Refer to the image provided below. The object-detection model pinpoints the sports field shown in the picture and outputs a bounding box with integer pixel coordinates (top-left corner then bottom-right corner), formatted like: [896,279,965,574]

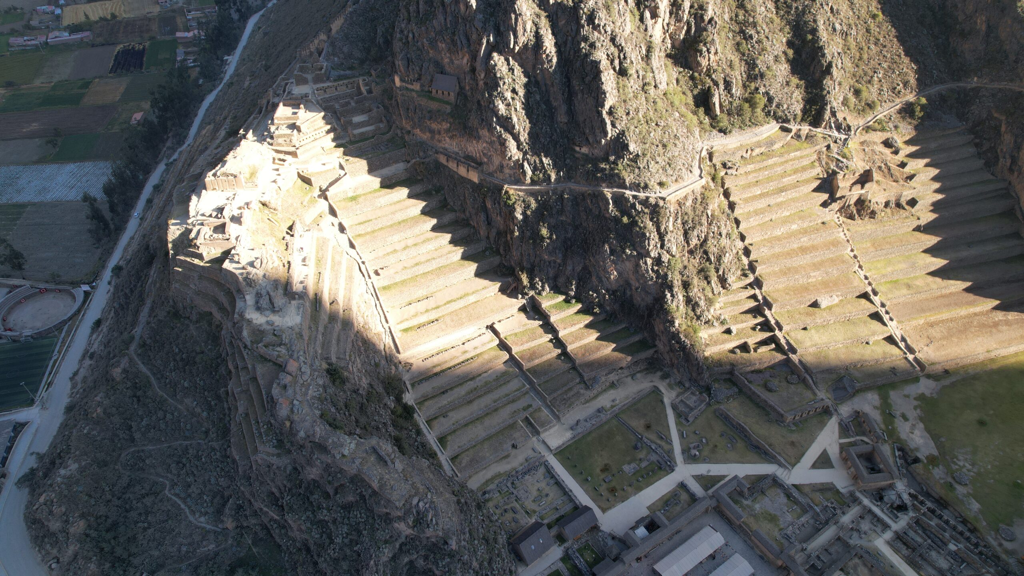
[0,336,59,408]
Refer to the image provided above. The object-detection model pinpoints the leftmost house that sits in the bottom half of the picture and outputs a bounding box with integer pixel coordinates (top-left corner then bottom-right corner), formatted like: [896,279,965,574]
[507,516,556,567]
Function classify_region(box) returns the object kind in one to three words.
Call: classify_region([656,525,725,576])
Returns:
house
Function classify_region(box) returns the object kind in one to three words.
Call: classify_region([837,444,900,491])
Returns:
house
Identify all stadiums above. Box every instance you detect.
[0,272,93,344]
